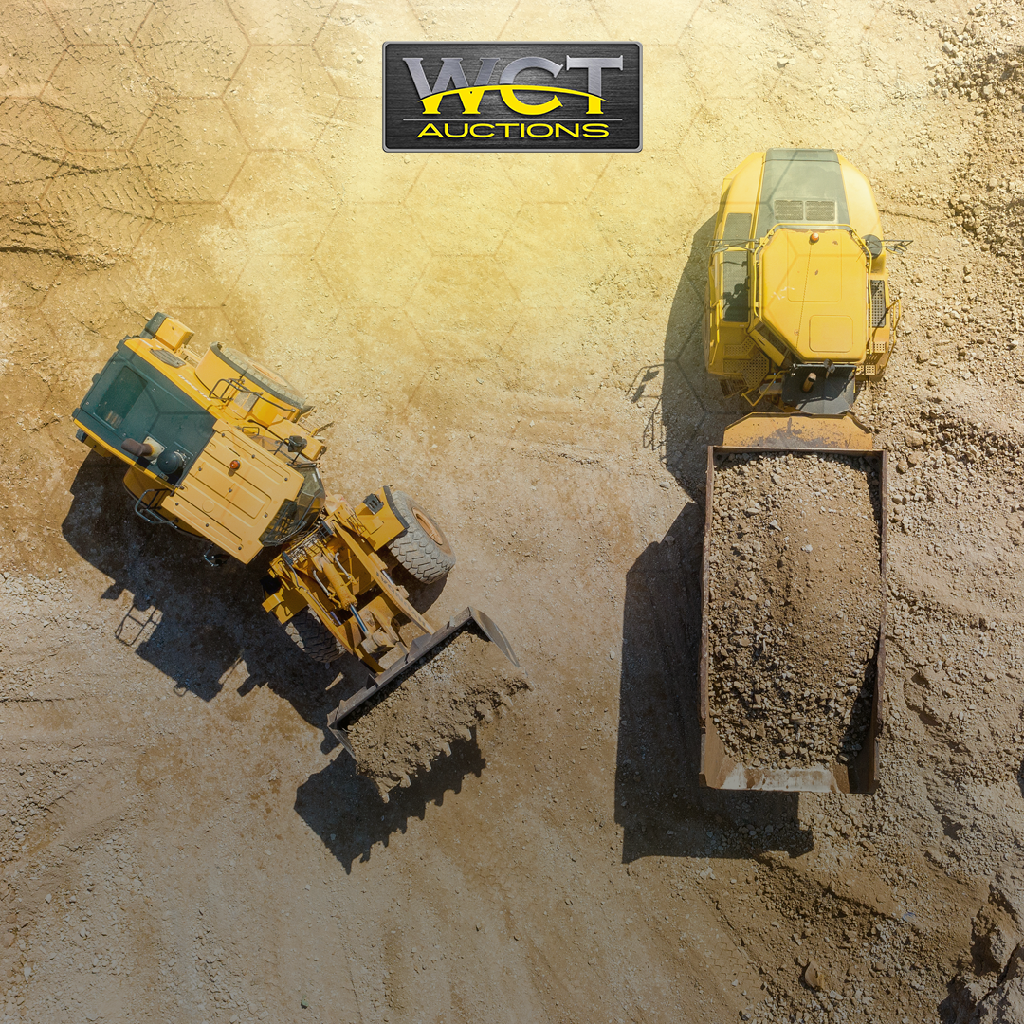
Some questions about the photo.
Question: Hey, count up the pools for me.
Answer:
0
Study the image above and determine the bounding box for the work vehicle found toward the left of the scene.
[61,307,534,803]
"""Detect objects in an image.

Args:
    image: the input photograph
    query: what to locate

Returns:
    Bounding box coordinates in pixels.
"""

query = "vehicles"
[61,307,534,803]
[698,144,912,801]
